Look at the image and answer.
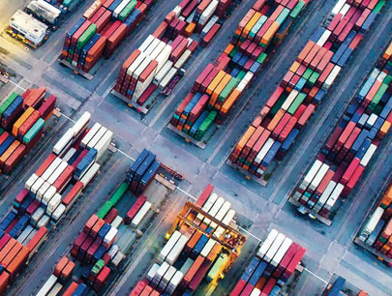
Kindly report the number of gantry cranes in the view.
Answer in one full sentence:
There is 1 gantry crane in the image.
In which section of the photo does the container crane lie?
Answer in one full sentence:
Look in the bottom portion of the view to spot the container crane.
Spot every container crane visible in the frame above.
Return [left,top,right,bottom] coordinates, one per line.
[163,201,251,282]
